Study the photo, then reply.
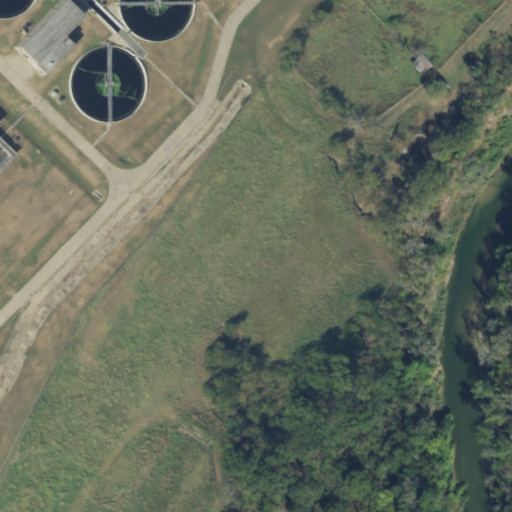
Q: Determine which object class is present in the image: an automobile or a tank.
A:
tank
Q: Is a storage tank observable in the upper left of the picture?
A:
Yes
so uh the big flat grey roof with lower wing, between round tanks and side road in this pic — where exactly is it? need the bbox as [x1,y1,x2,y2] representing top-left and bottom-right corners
[18,0,88,76]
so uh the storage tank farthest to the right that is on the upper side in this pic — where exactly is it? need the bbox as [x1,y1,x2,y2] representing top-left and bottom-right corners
[116,0,198,43]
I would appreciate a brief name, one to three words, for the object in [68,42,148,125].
storage tank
